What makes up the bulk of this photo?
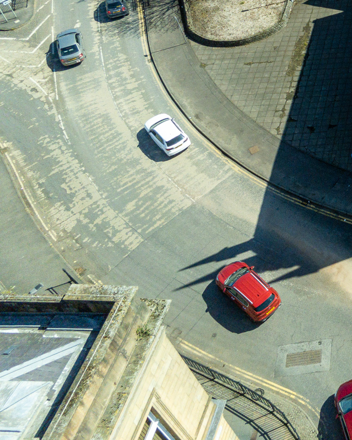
paved ground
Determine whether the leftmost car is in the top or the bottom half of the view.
top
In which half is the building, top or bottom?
bottom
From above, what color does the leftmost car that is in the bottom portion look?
red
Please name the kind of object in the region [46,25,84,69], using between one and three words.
car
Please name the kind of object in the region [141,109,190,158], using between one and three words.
car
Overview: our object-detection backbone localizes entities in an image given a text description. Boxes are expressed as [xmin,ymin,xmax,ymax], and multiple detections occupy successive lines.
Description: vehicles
[141,109,190,158]
[46,25,84,69]
[328,375,352,440]
[101,0,127,19]
[213,258,284,322]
